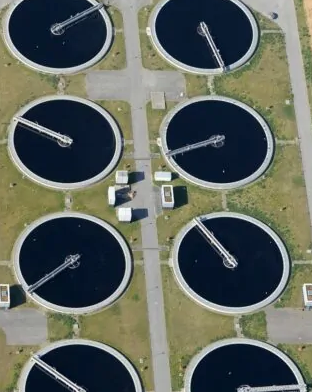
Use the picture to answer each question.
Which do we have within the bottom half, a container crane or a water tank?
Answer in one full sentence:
What appears within the bottom half is a water tank.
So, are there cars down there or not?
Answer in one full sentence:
No, there appears to be no car in this shot.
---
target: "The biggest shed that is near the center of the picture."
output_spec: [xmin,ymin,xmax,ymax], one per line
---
[161,185,175,211]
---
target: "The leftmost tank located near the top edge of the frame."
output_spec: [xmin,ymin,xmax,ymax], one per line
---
[2,0,113,75]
